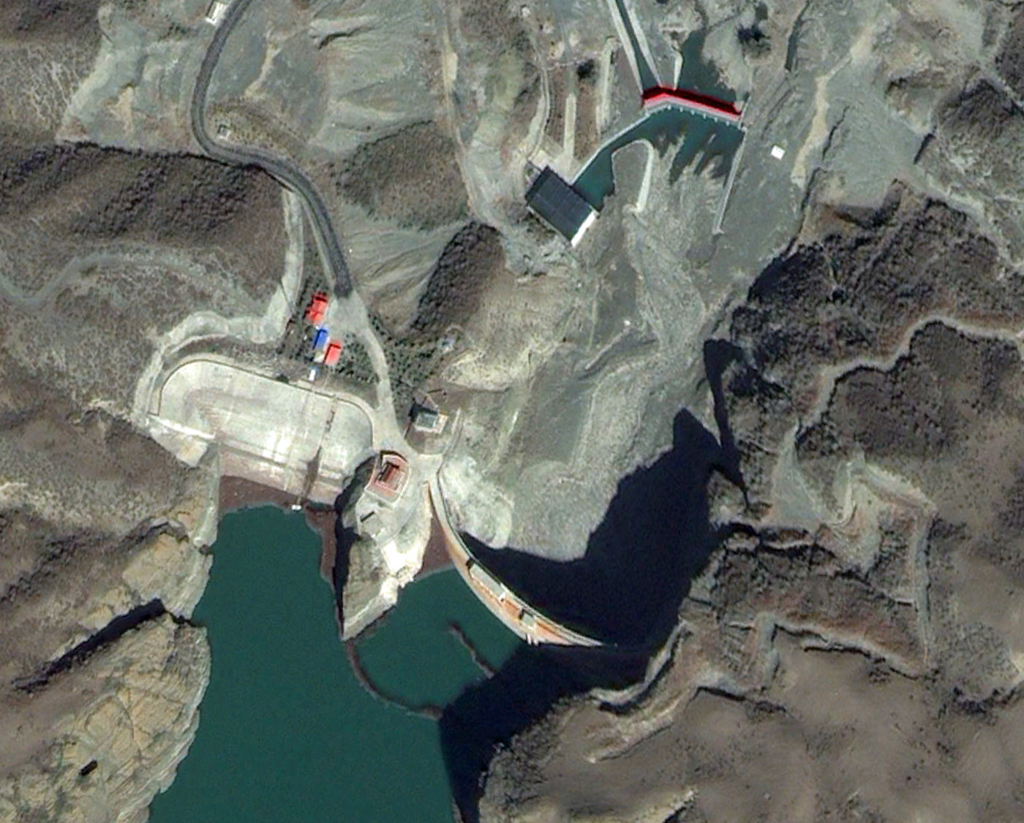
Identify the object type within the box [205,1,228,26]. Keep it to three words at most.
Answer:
building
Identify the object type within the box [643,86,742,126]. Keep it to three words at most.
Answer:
dam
